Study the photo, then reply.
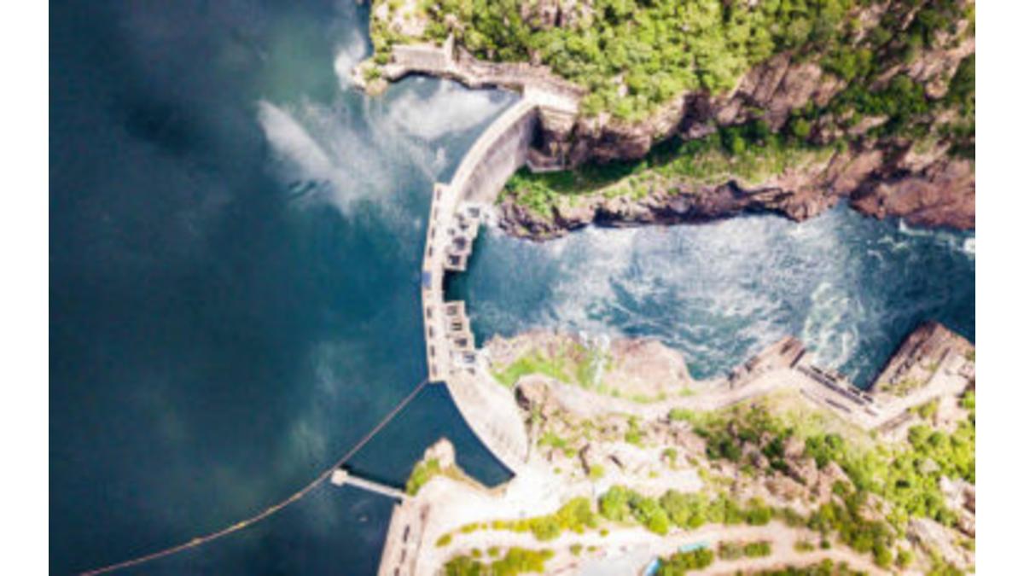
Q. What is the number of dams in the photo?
1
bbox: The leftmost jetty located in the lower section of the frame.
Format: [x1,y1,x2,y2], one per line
[331,467,410,501]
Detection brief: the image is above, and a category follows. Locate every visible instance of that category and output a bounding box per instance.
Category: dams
[422,98,538,475]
